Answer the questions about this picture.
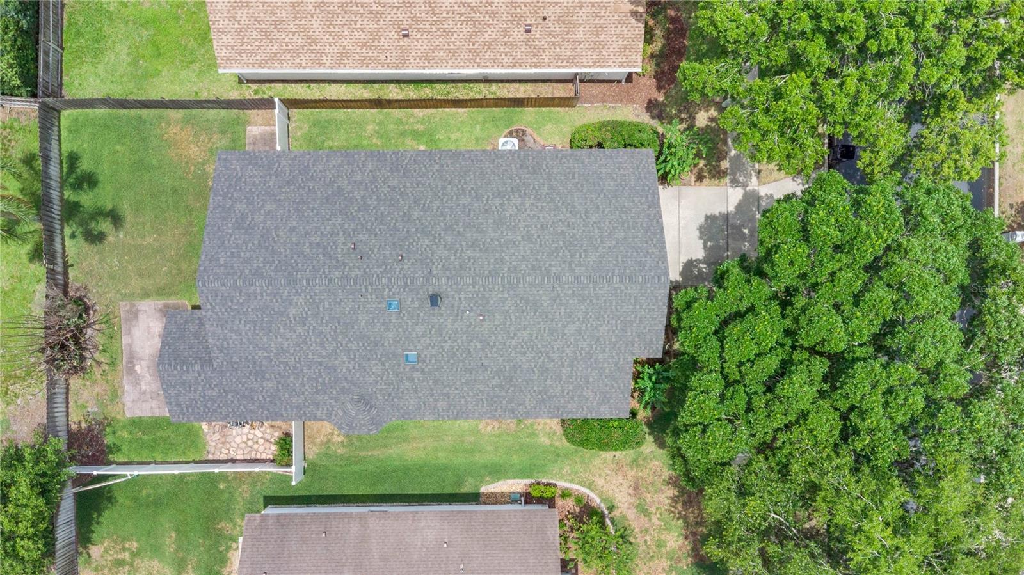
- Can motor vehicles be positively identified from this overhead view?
No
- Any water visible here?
No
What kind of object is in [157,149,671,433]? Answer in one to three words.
house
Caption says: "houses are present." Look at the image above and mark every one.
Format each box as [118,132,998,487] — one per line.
[236,500,561,575]
[157,149,671,433]
[206,0,646,84]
